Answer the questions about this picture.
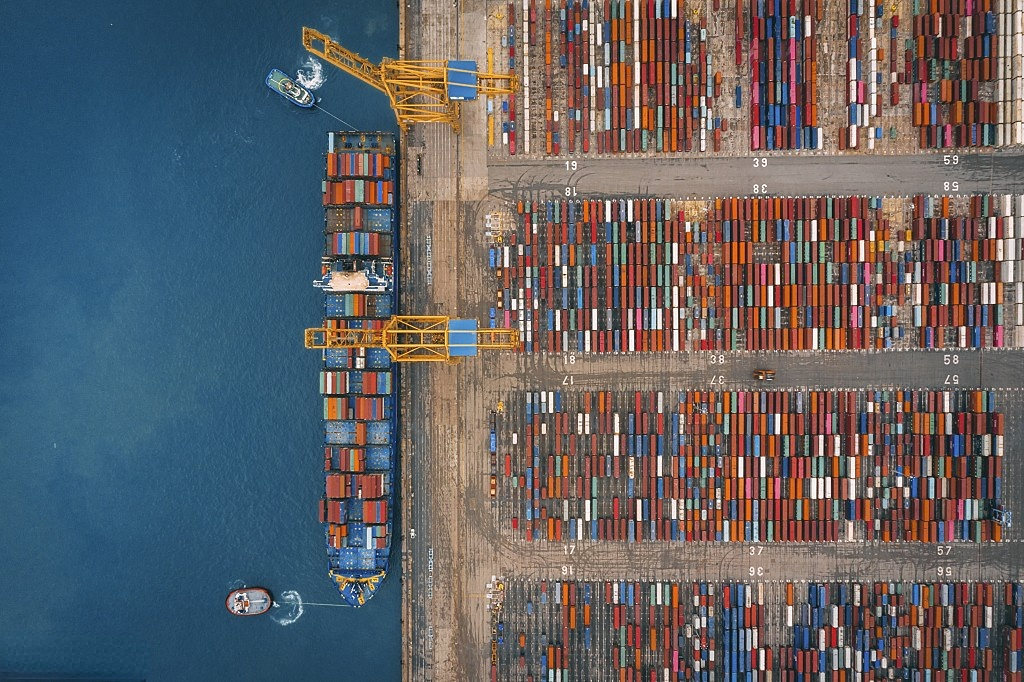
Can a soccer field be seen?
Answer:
No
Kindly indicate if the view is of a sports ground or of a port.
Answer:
port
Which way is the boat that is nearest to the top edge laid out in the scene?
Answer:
on a diagonal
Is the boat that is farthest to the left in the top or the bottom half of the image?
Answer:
bottom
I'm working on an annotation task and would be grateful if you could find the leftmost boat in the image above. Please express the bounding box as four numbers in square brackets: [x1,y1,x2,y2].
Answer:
[225,588,272,617]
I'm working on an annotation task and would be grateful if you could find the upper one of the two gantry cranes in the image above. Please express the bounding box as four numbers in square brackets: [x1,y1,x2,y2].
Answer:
[304,28,517,141]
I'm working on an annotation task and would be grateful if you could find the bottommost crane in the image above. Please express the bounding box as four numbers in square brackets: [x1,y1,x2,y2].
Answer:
[305,309,517,369]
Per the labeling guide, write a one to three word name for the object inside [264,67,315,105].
boat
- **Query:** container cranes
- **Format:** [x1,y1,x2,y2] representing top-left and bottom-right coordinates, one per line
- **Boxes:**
[305,309,517,369]
[304,28,517,141]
